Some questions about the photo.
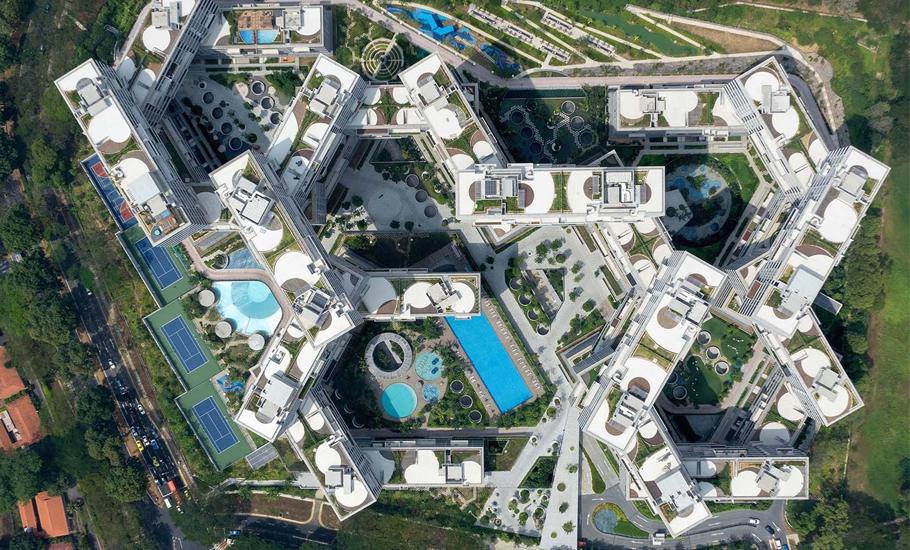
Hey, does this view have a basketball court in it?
Yes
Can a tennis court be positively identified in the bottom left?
Yes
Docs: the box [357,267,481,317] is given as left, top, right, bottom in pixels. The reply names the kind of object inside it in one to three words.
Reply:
building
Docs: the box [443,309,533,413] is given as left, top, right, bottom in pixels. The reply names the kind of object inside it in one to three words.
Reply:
swimming pool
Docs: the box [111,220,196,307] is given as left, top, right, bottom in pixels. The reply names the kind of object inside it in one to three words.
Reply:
tennis court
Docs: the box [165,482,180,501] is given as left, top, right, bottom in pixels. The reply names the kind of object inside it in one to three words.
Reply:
vehicle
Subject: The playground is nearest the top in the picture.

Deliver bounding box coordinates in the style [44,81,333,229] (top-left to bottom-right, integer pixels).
[387,6,518,73]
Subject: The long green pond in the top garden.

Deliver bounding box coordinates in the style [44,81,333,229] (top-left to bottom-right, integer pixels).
[582,12,699,57]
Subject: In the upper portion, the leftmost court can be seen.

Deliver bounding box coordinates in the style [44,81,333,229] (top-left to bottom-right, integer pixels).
[76,151,135,232]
